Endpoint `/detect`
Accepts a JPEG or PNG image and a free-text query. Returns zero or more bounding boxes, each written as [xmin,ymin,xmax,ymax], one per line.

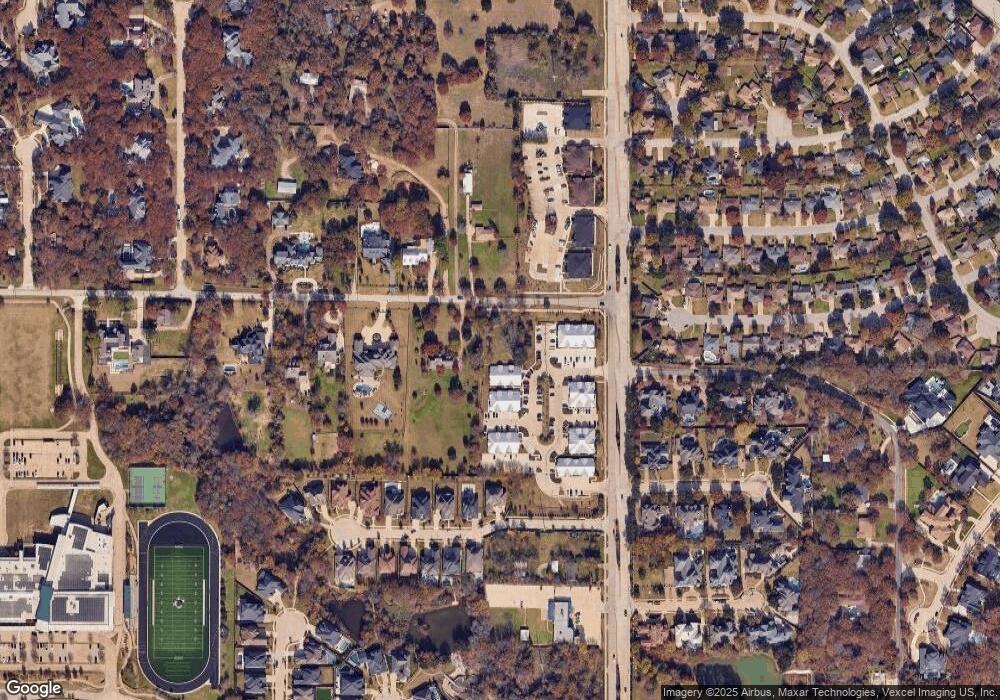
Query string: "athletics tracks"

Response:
[138,512,220,693]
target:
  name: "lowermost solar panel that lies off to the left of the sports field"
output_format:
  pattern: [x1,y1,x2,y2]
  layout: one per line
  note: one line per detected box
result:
[52,598,104,622]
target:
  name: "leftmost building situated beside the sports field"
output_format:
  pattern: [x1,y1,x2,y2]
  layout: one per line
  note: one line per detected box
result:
[0,504,113,631]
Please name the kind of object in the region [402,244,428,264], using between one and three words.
house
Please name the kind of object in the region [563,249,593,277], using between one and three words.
building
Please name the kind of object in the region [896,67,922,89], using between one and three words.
house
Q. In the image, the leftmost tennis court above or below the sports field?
above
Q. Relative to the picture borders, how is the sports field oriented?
up and down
